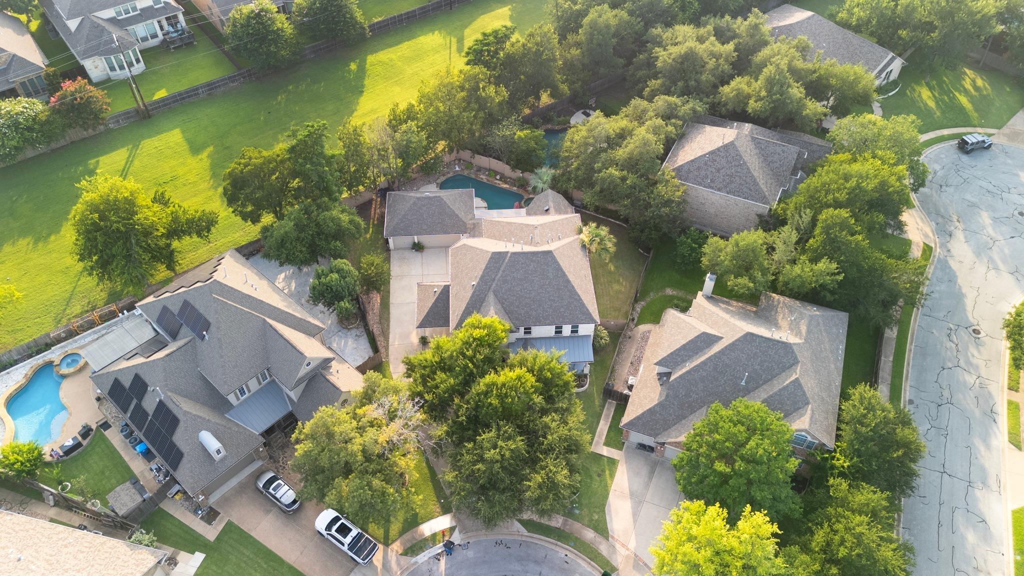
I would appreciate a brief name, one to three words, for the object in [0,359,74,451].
swimming pool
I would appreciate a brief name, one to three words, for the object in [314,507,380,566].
truck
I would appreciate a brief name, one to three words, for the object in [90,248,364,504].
house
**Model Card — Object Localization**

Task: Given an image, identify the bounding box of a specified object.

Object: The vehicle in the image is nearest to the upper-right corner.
[956,133,993,154]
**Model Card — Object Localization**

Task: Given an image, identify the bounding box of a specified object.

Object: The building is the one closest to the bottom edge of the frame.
[0,506,173,576]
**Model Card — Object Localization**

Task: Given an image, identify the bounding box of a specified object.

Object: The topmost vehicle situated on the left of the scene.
[256,470,304,517]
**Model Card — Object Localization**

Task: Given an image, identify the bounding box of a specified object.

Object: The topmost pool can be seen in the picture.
[541,126,578,167]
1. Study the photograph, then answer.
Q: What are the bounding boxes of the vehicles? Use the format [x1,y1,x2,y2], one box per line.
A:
[314,507,380,566]
[256,470,304,517]
[956,133,993,154]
